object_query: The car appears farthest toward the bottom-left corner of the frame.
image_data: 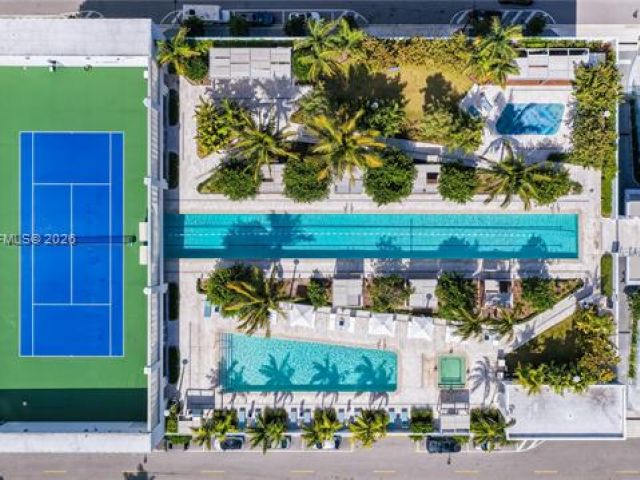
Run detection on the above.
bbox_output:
[216,436,246,450]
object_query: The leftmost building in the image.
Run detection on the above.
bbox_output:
[0,18,169,452]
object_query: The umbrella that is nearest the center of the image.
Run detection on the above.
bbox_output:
[289,304,313,328]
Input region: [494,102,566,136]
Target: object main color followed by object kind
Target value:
blue swimming pool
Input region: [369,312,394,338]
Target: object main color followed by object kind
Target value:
white umbrella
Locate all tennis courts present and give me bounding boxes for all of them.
[0,66,148,421]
